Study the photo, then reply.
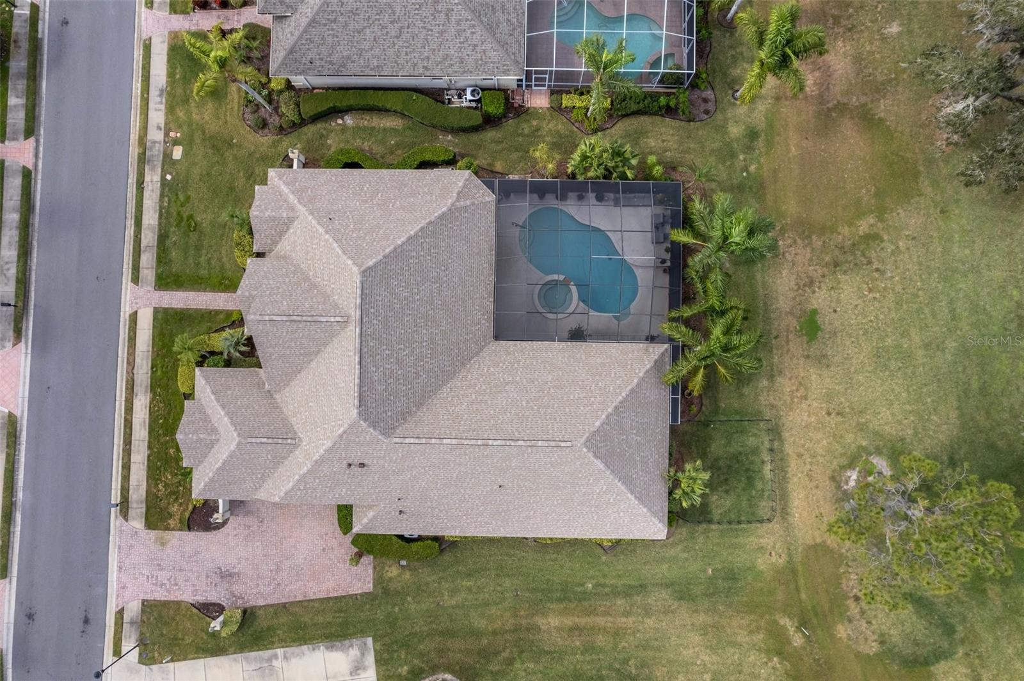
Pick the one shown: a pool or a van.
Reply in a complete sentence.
This aerial view contains a pool.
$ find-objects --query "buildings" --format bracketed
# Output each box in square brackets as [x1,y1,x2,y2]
[256,0,526,89]
[176,167,670,540]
